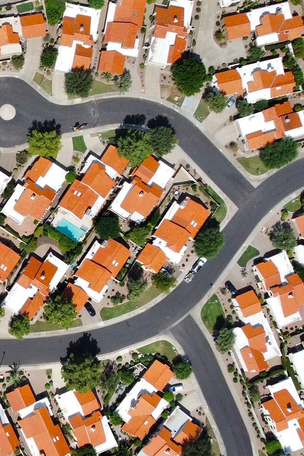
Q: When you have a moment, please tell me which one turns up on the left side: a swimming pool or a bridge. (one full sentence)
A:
You can see a swimming pool on the left side.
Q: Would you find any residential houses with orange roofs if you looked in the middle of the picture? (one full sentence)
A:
Yes, a residential house with an orange roof shows up in the middle of the picture.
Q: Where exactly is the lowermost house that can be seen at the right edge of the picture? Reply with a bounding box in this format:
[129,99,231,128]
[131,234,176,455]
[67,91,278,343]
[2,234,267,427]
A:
[257,378,304,455]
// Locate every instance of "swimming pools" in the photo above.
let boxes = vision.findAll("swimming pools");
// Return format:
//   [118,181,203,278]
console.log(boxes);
[56,217,85,243]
